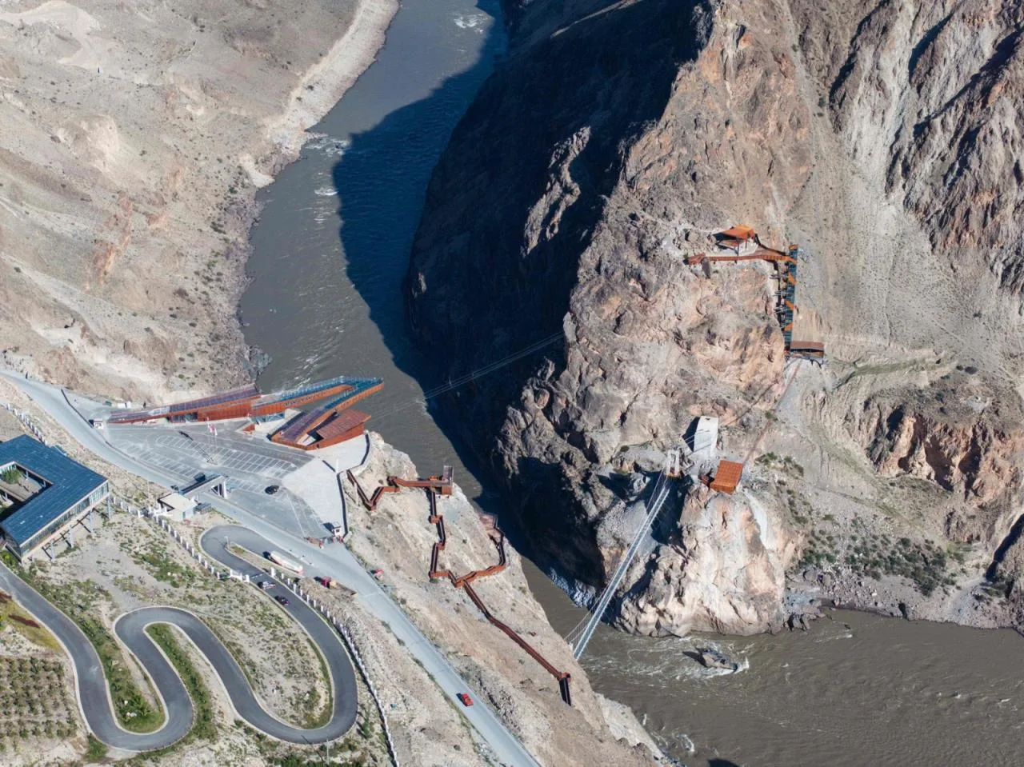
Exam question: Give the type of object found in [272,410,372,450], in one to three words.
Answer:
building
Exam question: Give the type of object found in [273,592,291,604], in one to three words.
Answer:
vehicle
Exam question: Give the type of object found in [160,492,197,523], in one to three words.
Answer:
building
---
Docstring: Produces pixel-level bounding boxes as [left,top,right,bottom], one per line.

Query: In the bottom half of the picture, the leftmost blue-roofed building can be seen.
[0,434,110,567]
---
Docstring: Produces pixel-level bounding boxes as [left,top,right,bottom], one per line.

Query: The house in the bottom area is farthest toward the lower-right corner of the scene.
[703,461,743,493]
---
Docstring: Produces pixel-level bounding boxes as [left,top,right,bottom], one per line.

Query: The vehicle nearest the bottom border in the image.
[457,689,473,705]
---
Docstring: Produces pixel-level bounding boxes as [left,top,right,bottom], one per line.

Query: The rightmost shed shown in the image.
[790,341,825,363]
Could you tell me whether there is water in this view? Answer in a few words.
Yes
